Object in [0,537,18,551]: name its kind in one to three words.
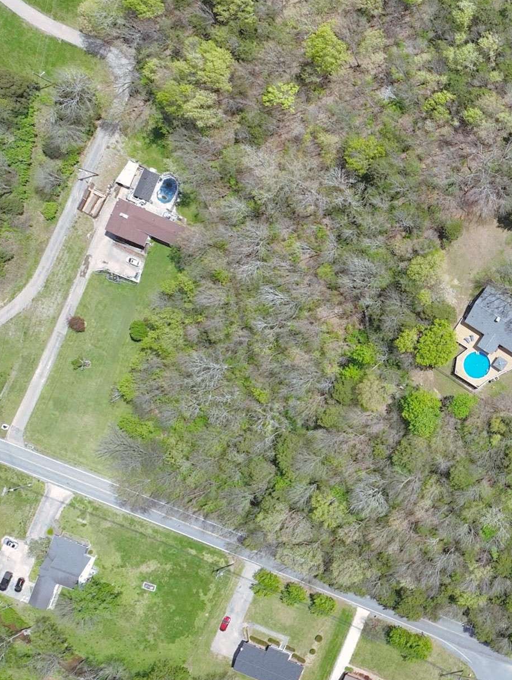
vehicle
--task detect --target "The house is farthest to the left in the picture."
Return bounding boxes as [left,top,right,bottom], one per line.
[27,535,102,611]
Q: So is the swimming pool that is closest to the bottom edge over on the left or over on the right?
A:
right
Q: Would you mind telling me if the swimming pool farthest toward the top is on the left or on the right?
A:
left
